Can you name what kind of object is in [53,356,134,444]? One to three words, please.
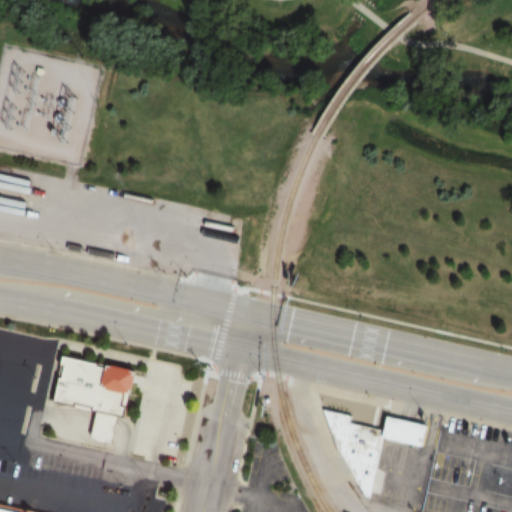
building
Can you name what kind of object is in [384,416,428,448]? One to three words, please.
building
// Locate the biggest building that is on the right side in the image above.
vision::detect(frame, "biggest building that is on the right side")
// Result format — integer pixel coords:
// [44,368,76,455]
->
[324,409,384,498]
